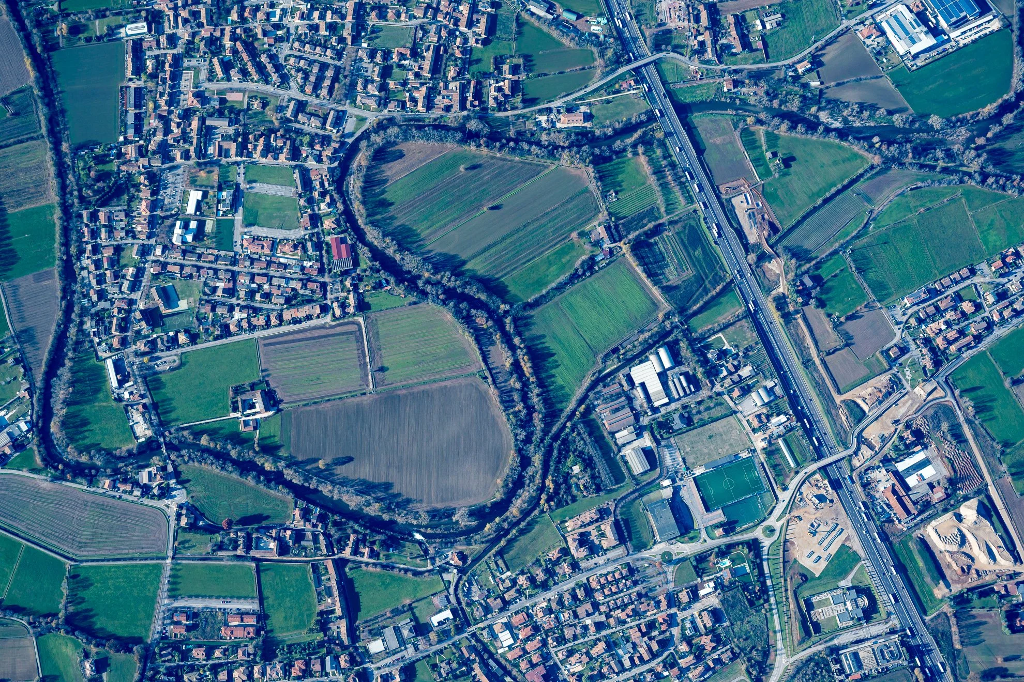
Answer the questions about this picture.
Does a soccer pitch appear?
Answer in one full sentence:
Yes, there's a soccer pitch down there.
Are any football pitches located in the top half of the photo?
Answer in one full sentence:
No, in the top half of the photo there is no football pitch.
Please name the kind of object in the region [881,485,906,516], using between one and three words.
shed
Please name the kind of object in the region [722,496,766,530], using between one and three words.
soccer field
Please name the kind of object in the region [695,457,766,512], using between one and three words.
soccer field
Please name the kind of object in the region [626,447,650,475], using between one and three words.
building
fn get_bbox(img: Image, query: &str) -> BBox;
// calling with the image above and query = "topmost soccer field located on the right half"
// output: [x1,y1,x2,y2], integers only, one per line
[672,417,753,471]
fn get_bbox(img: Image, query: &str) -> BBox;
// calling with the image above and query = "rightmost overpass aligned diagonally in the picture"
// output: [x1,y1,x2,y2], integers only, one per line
[787,379,922,493]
